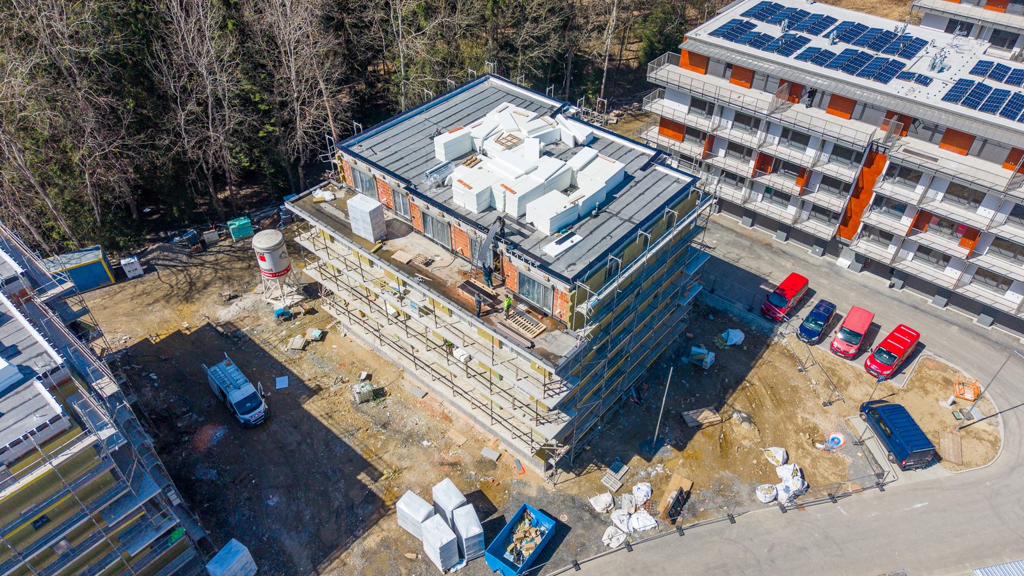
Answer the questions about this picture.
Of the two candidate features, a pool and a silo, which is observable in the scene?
silo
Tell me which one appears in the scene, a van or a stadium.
van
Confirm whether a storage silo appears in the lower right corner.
No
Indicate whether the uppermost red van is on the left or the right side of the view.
right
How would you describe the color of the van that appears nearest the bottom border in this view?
blue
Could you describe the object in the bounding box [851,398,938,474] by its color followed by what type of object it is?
blue van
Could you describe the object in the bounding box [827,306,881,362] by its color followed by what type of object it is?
red van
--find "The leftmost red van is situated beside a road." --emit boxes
[762,274,812,324]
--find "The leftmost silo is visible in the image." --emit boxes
[256,232,320,326]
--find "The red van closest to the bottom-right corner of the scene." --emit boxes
[865,322,920,382]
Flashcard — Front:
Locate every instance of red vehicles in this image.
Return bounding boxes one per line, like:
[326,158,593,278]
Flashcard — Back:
[865,322,920,382]
[762,274,812,324]
[827,306,881,362]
